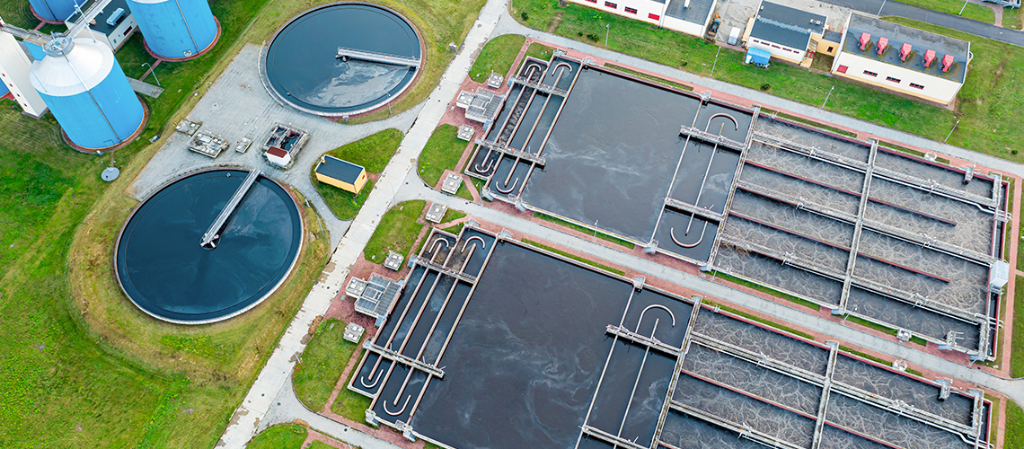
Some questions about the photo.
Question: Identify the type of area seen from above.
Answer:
industrial area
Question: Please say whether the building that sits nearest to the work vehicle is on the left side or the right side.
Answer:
right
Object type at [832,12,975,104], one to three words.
building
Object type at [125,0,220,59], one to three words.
storage tank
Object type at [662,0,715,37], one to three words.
building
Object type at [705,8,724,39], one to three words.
work vehicle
